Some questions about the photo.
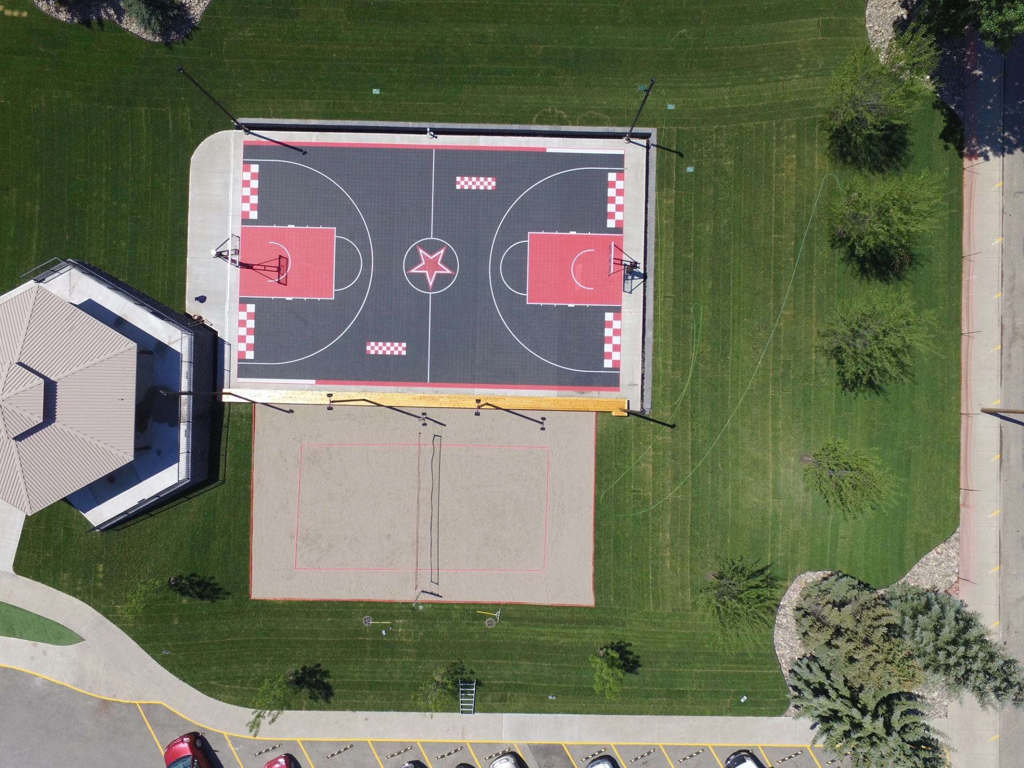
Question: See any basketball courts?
Yes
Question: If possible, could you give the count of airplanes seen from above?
0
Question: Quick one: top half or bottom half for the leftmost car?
bottom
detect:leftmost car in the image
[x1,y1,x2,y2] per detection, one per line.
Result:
[164,733,206,768]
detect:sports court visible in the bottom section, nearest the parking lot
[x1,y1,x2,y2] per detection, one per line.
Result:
[250,403,597,607]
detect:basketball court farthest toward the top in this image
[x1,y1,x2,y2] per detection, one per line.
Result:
[237,140,625,392]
